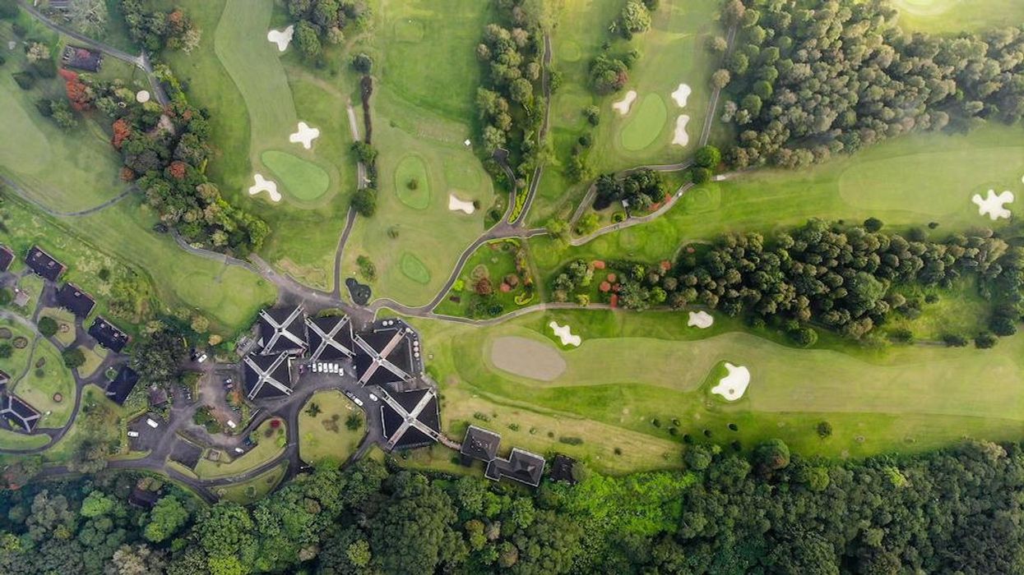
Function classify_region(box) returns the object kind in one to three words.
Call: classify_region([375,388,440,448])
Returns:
building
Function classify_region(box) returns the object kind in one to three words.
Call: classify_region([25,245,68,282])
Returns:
house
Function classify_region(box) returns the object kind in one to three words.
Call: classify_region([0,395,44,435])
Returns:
house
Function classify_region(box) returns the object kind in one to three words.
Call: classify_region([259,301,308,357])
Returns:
building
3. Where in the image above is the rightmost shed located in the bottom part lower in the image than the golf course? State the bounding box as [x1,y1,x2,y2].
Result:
[552,456,577,484]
